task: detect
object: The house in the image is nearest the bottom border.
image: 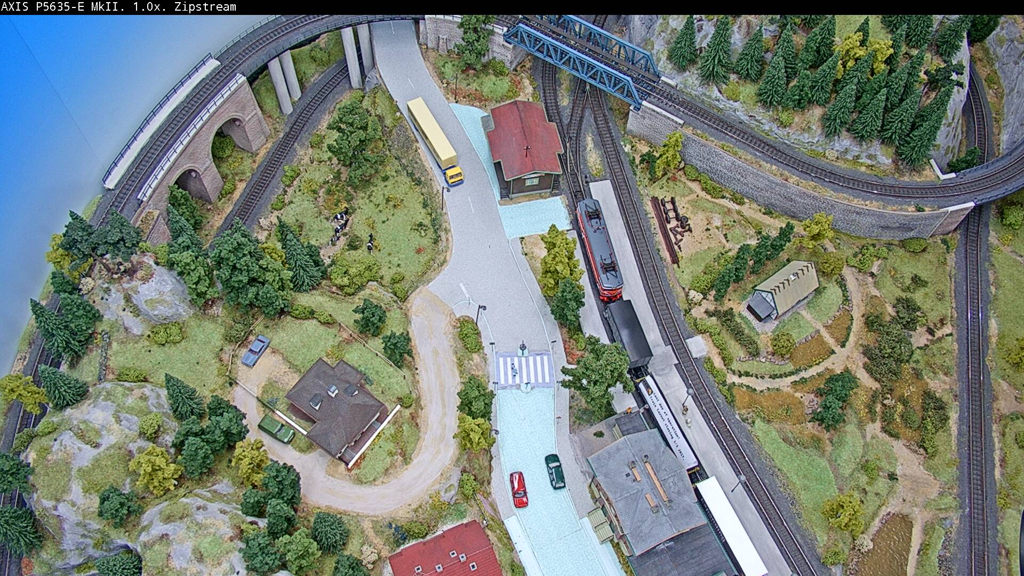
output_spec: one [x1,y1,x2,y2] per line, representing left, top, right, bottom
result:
[389,519,505,576]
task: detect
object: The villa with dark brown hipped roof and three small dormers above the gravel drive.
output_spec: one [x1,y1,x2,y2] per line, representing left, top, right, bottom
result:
[284,359,405,472]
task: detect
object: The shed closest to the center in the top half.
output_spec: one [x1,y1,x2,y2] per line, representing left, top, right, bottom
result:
[480,96,565,199]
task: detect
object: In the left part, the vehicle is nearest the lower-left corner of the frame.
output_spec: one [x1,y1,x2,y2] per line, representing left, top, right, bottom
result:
[255,414,298,446]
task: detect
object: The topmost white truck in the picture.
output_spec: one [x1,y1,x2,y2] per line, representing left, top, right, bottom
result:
[407,97,465,187]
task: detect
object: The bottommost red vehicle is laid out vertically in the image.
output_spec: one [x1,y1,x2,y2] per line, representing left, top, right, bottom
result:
[510,471,529,510]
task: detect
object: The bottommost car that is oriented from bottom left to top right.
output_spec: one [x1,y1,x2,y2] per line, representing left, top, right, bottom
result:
[238,333,273,367]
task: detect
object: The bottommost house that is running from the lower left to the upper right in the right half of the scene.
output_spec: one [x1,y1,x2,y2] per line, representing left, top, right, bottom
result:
[745,260,822,322]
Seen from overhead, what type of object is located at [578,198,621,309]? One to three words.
rail car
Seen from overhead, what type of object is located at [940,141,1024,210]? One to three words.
bridge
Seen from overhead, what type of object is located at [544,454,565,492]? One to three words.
car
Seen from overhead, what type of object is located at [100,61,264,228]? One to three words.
bridge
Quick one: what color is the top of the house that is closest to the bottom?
red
